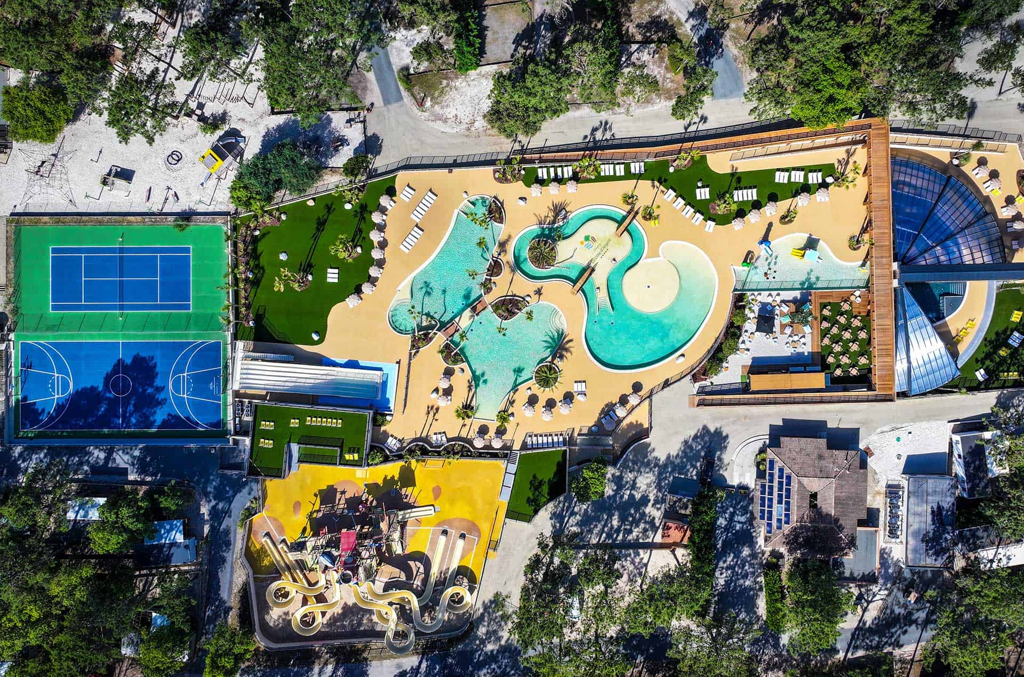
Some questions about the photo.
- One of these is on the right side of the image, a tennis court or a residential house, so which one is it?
residential house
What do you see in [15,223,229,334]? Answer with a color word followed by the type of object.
green tennis court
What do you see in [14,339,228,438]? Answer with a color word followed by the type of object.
blue basketball court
